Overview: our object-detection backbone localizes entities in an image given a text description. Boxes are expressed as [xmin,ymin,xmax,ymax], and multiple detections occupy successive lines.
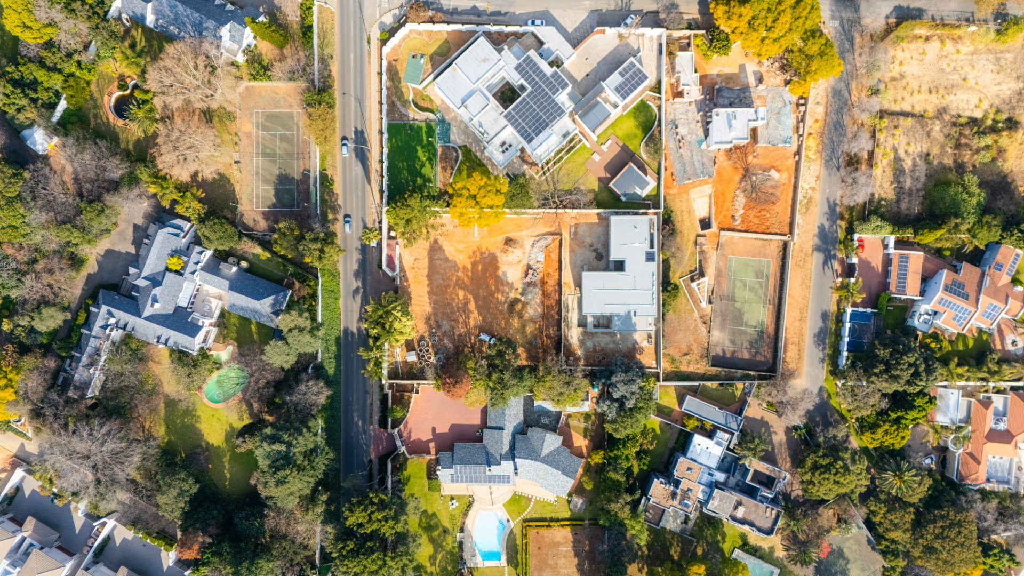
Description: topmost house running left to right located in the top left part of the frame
[108,0,271,68]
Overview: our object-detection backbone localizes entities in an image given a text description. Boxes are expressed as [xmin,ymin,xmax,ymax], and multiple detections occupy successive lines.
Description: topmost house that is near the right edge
[877,236,1024,333]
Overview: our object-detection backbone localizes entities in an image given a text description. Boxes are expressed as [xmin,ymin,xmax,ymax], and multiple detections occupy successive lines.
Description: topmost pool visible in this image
[108,79,144,123]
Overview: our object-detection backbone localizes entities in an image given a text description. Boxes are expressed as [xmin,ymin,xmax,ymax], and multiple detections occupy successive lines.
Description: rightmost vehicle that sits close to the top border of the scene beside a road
[622,13,638,26]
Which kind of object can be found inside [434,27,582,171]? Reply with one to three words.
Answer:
house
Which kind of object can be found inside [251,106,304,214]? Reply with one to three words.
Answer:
tennis court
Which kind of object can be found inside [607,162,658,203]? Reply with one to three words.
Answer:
building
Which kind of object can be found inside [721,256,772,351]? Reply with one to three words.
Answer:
tennis court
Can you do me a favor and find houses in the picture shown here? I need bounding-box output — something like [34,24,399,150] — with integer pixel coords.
[437,393,589,499]
[108,0,271,68]
[642,426,789,538]
[877,236,1024,333]
[935,390,1024,488]
[58,215,293,402]
[19,124,63,157]
[434,27,582,171]
[0,509,83,576]
[705,107,766,152]
[579,215,657,332]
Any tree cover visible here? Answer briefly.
Yes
